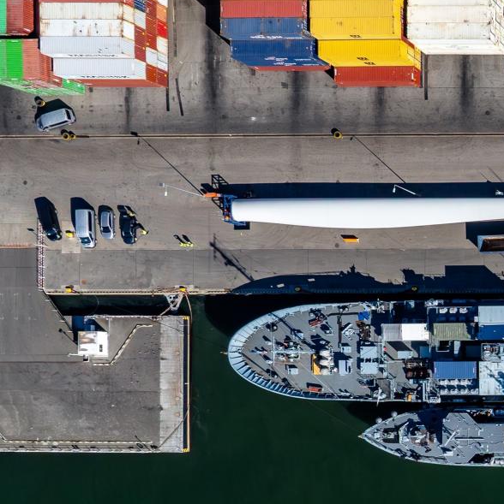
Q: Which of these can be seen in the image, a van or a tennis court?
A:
van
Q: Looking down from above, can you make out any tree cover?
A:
No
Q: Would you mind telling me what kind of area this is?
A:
port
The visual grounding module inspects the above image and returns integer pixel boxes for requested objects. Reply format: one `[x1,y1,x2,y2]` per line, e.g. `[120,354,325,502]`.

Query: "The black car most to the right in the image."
[116,211,135,243]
